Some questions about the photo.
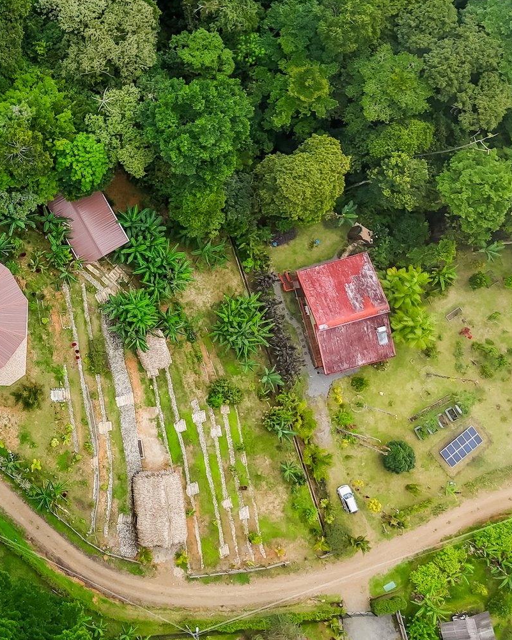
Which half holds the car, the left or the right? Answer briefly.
right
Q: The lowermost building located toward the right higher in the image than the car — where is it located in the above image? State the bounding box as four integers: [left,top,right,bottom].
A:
[293,252,398,375]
